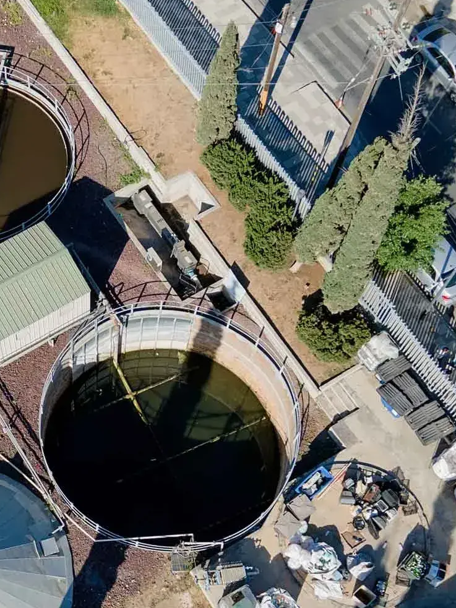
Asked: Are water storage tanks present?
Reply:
Yes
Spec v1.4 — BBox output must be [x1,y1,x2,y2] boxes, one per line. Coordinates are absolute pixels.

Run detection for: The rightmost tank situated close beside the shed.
[39,301,299,555]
